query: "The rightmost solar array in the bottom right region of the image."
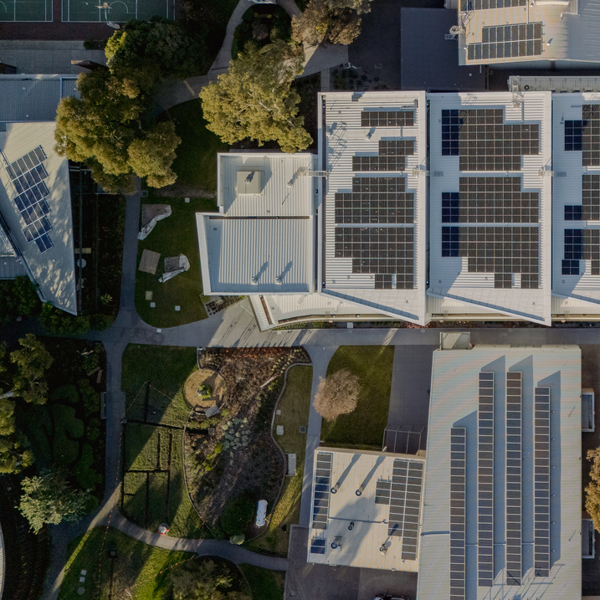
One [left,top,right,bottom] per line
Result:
[535,387,549,576]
